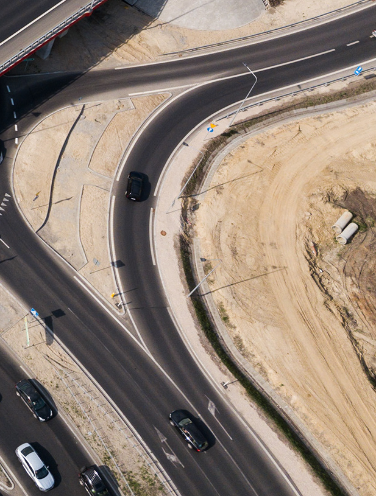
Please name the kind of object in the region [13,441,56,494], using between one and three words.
car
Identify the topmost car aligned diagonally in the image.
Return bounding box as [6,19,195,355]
[13,378,54,424]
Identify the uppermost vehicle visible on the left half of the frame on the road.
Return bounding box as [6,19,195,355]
[126,173,145,205]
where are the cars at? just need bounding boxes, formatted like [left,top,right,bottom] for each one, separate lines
[126,173,145,205]
[75,464,115,496]
[13,441,56,494]
[166,410,210,455]
[13,378,54,424]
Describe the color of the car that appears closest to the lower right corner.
black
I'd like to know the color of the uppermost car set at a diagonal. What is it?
black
